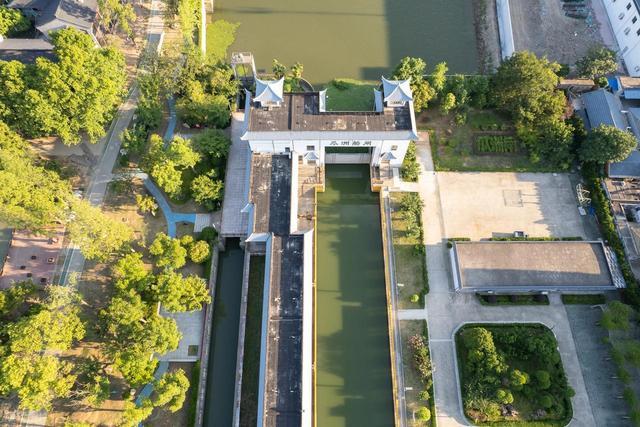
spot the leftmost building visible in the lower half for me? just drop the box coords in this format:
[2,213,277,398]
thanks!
[239,148,314,427]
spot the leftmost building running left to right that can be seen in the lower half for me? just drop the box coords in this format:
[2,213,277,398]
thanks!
[444,244,615,298]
